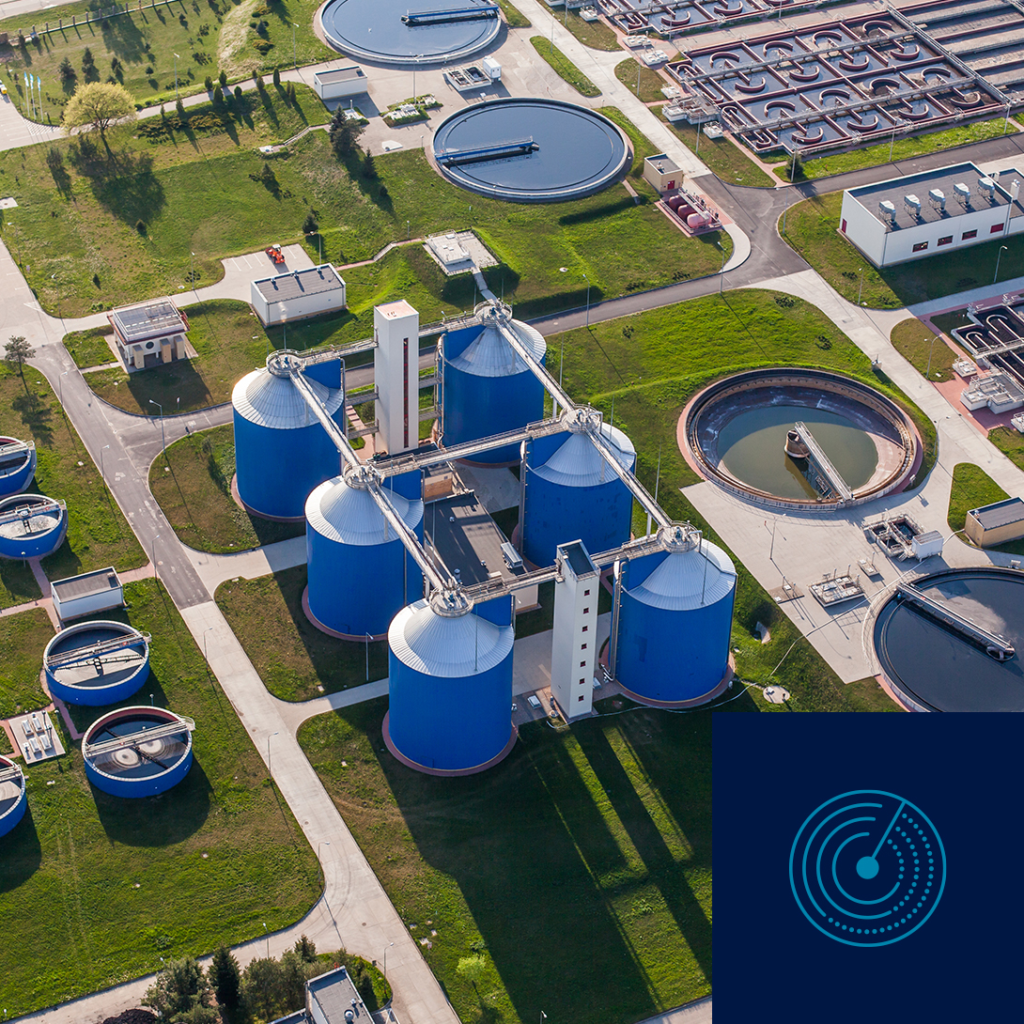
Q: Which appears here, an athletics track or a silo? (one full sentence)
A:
Looking from above, you can make out a silo.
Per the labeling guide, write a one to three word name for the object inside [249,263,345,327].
building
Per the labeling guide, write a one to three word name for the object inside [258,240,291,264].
work vehicle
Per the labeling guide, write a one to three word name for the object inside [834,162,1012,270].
building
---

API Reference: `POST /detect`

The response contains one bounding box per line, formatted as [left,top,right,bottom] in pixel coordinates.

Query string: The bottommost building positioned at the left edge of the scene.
[49,564,125,620]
